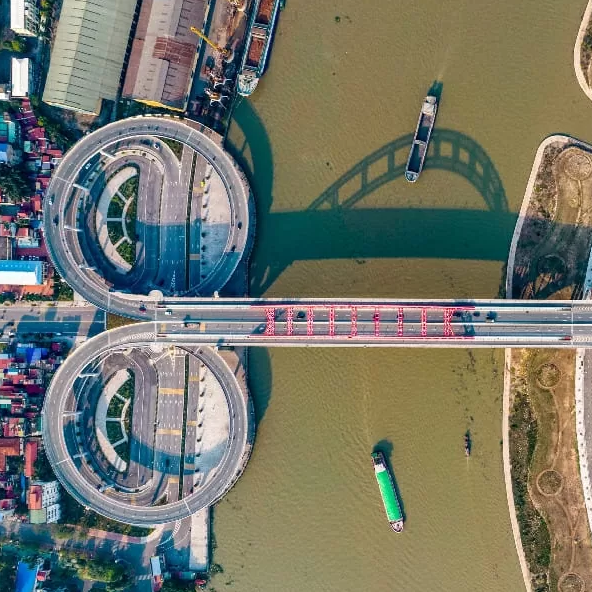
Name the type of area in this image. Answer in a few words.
port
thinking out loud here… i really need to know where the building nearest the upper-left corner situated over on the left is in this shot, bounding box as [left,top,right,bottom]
[11,0,37,35]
